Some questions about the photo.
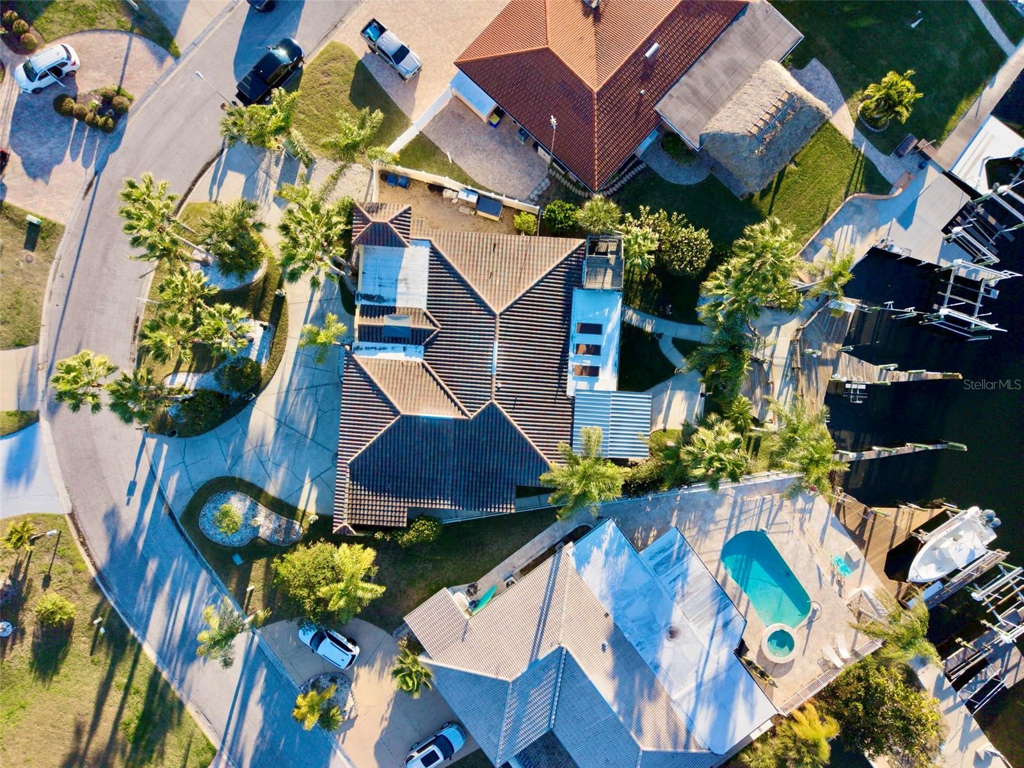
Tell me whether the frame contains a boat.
Yes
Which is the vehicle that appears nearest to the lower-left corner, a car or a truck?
car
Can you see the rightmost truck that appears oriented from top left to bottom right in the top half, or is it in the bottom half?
top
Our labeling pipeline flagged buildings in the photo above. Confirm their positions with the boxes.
[451,0,805,195]
[332,201,622,536]
[404,516,780,768]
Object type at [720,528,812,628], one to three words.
swimming pool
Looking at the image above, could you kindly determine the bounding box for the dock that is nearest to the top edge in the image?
[948,116,1024,194]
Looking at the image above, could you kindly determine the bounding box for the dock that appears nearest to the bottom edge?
[942,600,1024,688]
